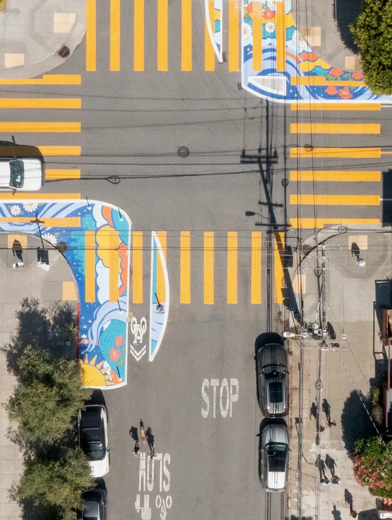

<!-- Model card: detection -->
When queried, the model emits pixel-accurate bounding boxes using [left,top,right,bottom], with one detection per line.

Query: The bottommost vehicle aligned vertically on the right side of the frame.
[257,421,292,492]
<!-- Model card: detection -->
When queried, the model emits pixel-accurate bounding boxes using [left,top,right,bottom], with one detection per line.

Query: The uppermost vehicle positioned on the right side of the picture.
[255,340,291,418]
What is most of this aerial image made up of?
paved ground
